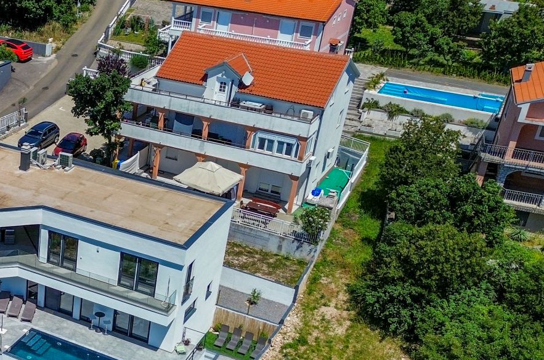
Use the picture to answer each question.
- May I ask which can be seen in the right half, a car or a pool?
pool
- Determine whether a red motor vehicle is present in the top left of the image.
Yes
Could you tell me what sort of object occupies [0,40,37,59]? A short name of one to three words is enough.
car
